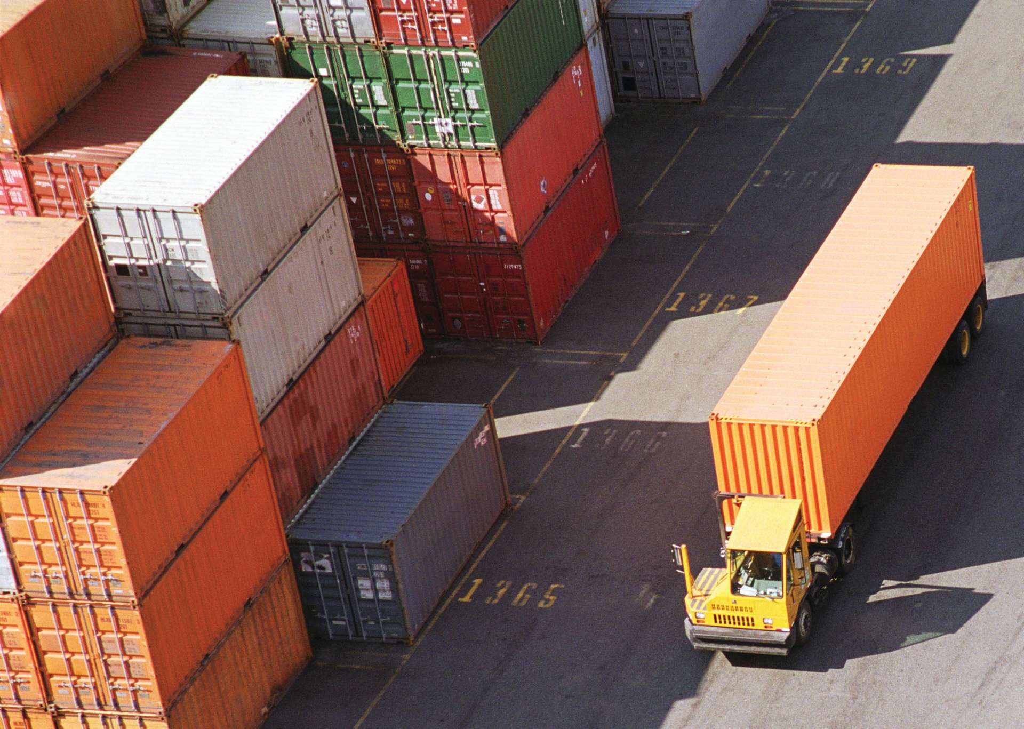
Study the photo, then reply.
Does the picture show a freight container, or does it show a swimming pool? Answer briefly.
freight container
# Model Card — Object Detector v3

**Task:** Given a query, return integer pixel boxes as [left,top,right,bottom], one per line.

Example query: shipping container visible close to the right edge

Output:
[708,163,985,537]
